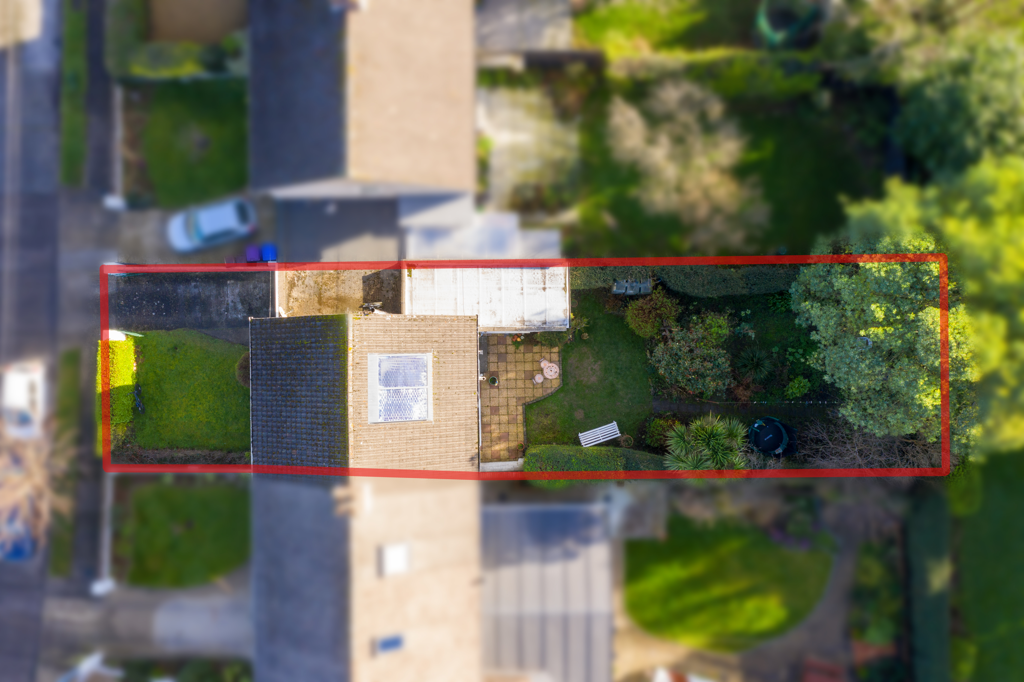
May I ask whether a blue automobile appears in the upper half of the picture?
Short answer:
Yes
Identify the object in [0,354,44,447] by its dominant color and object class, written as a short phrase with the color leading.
white van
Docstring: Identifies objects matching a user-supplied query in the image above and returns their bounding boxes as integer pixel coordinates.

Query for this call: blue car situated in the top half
[164,199,254,249]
